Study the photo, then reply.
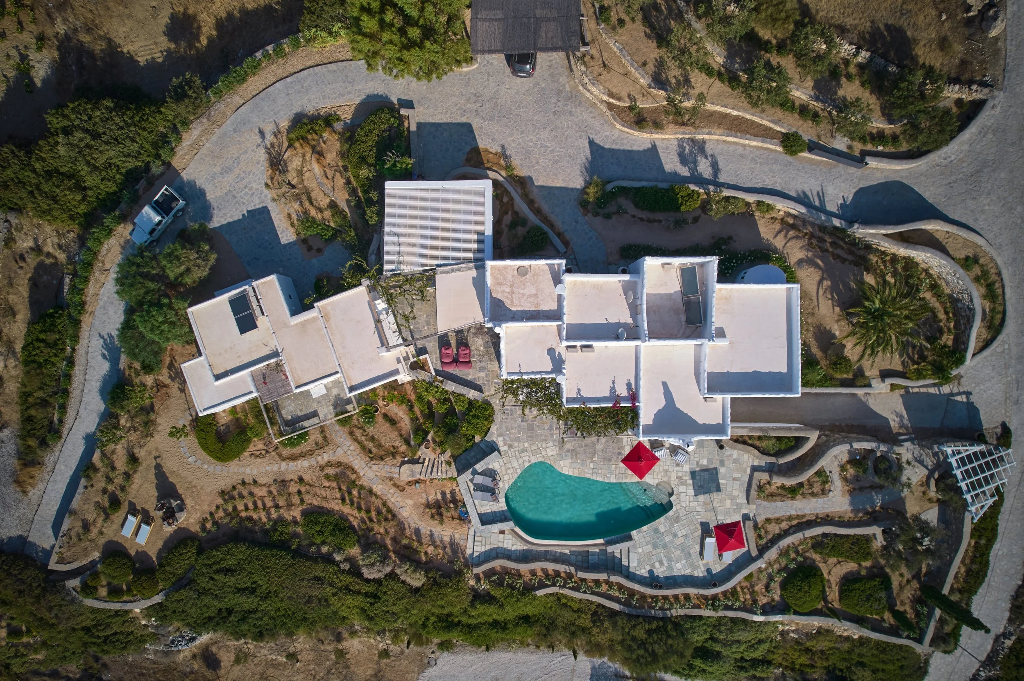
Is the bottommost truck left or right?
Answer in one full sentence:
It is on the left.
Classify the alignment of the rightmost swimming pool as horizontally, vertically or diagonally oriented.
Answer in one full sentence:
In this picture, the rightmost swimming pool is oriented horizontally.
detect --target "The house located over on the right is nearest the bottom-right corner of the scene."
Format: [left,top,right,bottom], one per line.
[485,257,801,450]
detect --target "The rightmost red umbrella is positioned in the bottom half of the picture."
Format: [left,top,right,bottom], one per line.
[713,520,745,554]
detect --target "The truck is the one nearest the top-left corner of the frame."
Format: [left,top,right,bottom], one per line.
[132,184,189,249]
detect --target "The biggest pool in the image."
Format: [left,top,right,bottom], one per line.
[505,462,673,551]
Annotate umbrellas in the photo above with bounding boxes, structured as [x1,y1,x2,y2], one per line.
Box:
[713,520,745,554]
[621,441,660,480]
